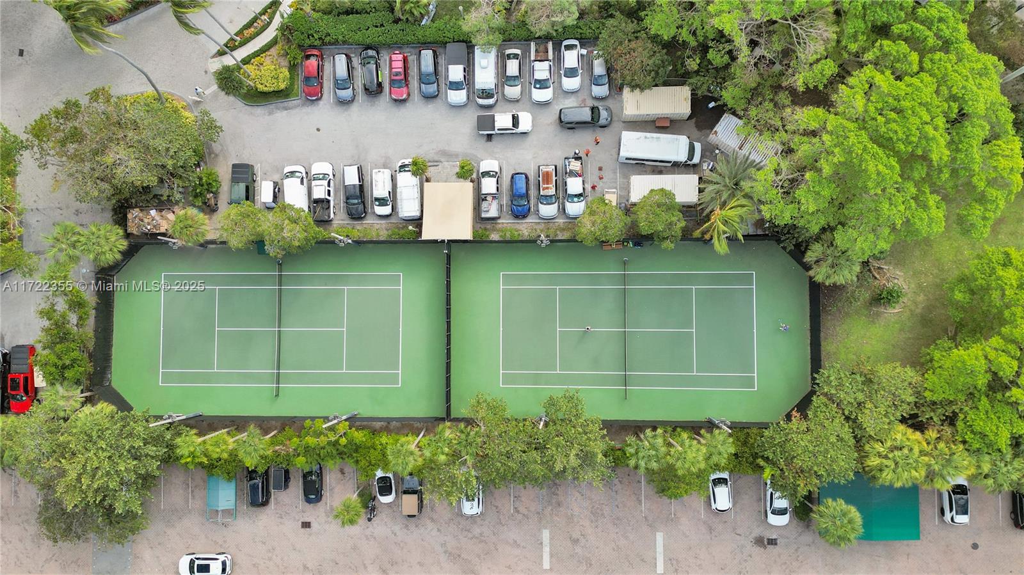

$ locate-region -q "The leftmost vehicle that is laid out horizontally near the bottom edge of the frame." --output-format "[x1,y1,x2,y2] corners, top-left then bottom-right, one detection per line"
[181,551,234,575]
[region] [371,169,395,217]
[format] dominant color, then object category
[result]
white vehicle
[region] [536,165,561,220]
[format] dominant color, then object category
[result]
white car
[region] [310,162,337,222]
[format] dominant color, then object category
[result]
white truck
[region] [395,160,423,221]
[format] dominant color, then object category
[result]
white van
